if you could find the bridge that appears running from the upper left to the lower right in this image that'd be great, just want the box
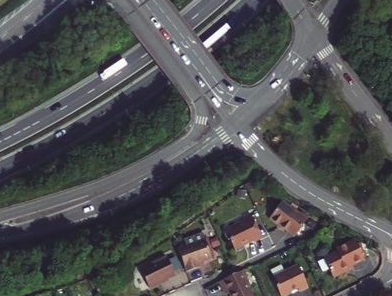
[114,0,235,112]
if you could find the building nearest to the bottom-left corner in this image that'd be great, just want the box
[140,250,178,286]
